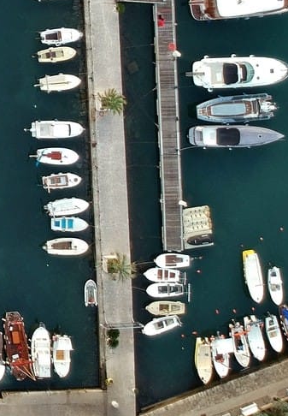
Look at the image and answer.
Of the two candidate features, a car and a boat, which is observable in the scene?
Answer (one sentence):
Of the two, only a boat appears.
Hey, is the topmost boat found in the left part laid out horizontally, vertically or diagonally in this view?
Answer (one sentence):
In this picture, the topmost boat found in the left part is oriented horizontally.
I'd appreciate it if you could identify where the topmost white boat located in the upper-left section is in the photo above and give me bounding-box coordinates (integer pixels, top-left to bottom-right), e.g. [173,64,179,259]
[37,27,82,47]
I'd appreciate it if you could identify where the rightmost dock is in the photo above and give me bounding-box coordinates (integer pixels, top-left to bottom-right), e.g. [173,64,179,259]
[182,205,214,250]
